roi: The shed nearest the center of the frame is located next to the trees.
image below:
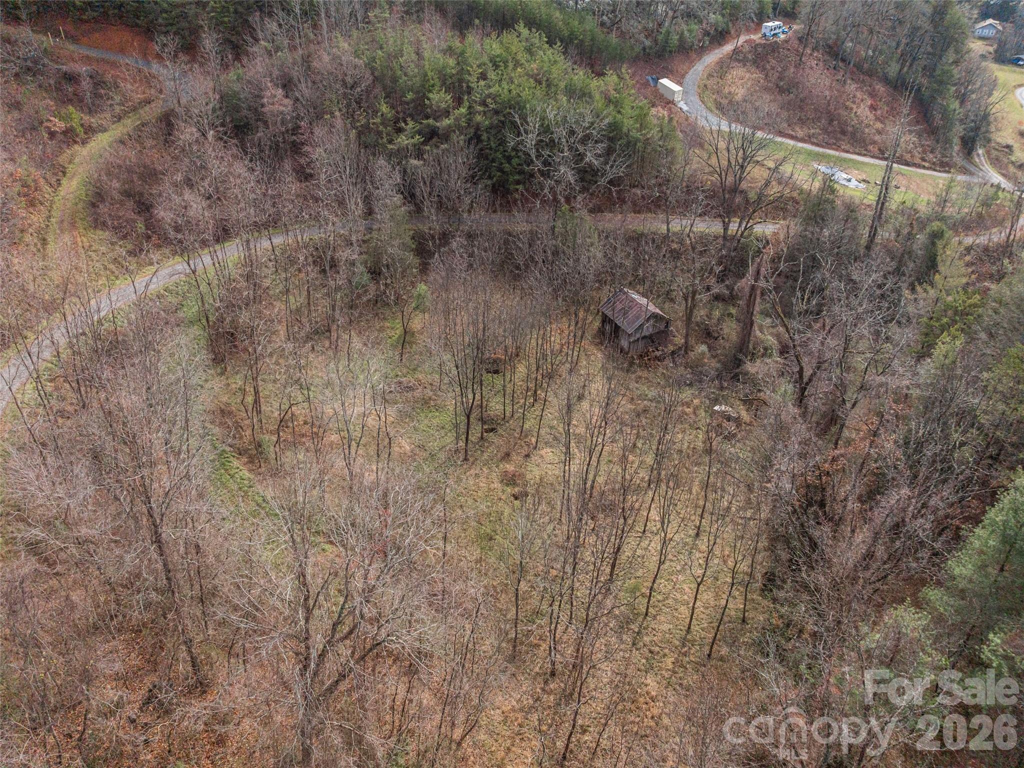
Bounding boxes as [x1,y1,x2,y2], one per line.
[596,289,672,359]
